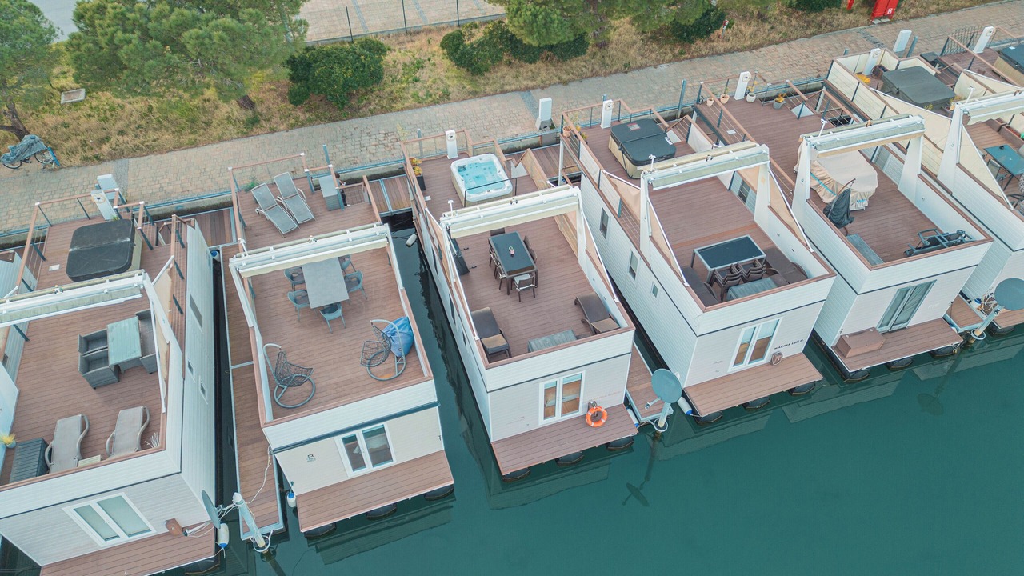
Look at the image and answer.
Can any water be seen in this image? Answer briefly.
Yes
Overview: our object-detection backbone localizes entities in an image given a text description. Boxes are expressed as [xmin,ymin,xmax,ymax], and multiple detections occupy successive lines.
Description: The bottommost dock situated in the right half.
[626,344,674,426]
